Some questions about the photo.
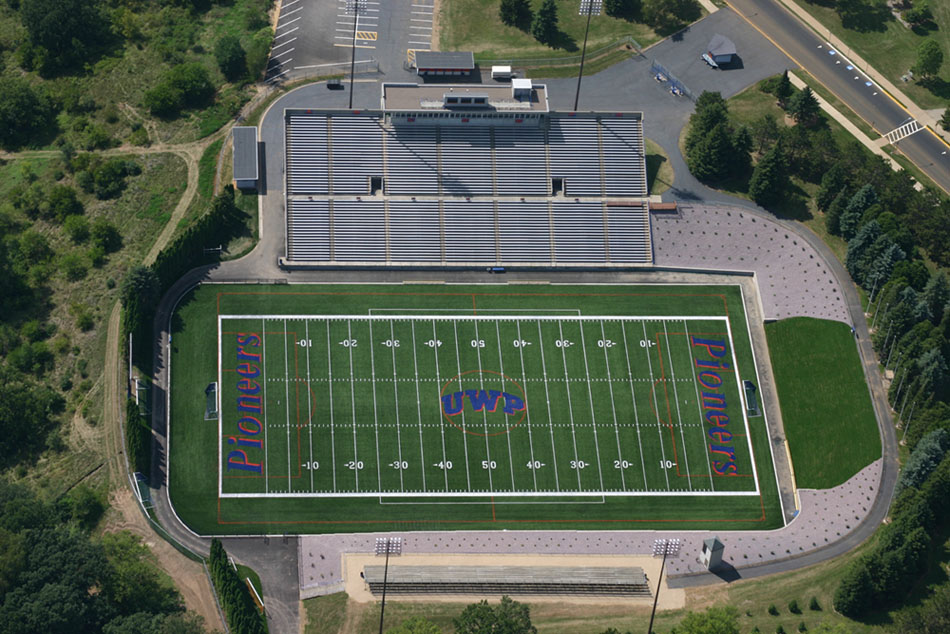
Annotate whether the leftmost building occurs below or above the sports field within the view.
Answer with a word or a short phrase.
above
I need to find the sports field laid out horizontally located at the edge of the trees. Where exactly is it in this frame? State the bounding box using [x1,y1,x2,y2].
[166,282,788,537]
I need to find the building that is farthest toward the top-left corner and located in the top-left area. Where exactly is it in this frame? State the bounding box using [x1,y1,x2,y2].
[233,125,259,188]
